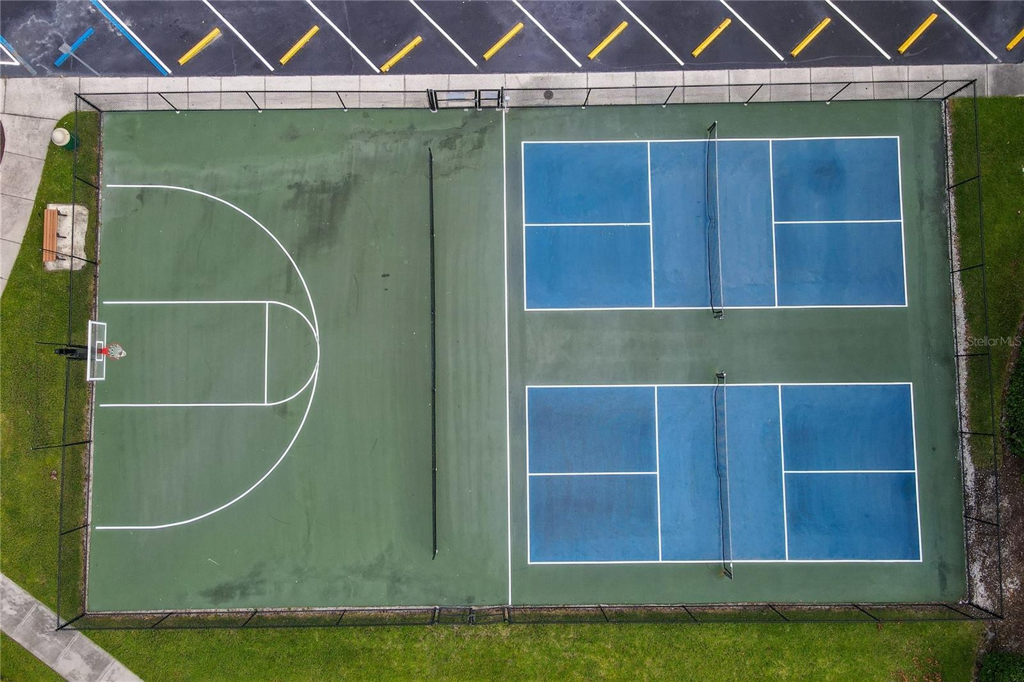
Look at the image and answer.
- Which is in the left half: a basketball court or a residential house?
basketball court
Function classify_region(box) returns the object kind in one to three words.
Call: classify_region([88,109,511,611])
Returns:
basketball court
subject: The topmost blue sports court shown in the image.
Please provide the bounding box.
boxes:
[522,136,908,310]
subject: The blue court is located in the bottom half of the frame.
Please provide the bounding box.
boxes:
[526,382,923,564]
